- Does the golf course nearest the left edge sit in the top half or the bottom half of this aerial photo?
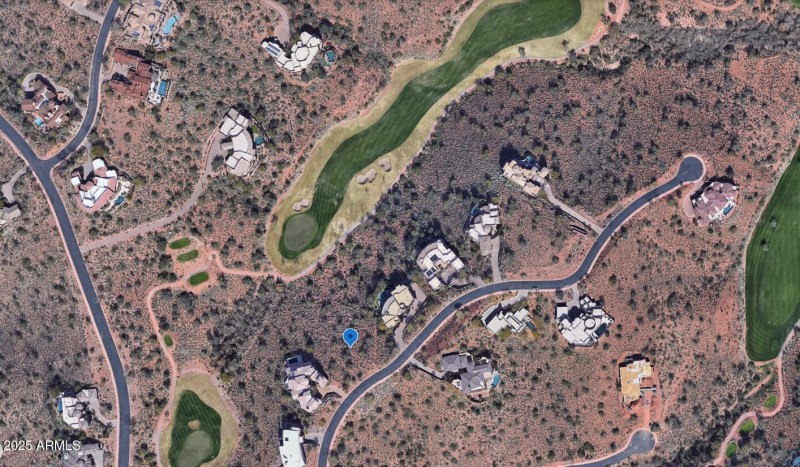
bottom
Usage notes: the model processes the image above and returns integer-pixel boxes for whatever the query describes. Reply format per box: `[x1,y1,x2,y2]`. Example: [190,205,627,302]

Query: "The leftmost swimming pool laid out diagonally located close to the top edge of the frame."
[162,16,180,34]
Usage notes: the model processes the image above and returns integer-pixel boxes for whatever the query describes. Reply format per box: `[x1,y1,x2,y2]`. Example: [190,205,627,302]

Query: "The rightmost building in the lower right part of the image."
[619,357,656,408]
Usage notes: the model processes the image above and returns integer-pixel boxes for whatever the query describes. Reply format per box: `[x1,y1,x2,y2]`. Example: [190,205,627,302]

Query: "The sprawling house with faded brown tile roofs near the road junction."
[20,78,73,129]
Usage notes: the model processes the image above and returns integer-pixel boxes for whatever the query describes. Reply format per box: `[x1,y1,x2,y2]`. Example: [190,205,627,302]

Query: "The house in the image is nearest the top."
[123,0,184,44]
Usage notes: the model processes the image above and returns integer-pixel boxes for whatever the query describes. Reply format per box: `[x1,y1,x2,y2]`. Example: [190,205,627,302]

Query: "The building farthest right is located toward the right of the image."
[690,180,739,228]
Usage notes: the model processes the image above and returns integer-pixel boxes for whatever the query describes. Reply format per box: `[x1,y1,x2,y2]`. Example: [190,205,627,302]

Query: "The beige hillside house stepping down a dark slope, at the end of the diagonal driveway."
[501,155,552,198]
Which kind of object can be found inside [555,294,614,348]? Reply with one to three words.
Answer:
house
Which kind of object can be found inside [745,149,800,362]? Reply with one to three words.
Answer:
golf course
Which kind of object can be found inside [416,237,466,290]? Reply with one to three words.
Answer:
house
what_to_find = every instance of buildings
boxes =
[123,0,184,44]
[380,283,416,330]
[62,442,101,467]
[416,237,466,290]
[20,78,73,129]
[484,306,536,336]
[278,426,307,467]
[285,353,330,412]
[440,351,501,397]
[501,155,552,198]
[261,30,324,77]
[57,387,100,428]
[109,48,166,103]
[466,202,502,258]
[555,294,614,348]
[690,180,739,228]
[218,105,266,178]
[619,357,656,408]
[69,156,131,215]
[0,202,23,226]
